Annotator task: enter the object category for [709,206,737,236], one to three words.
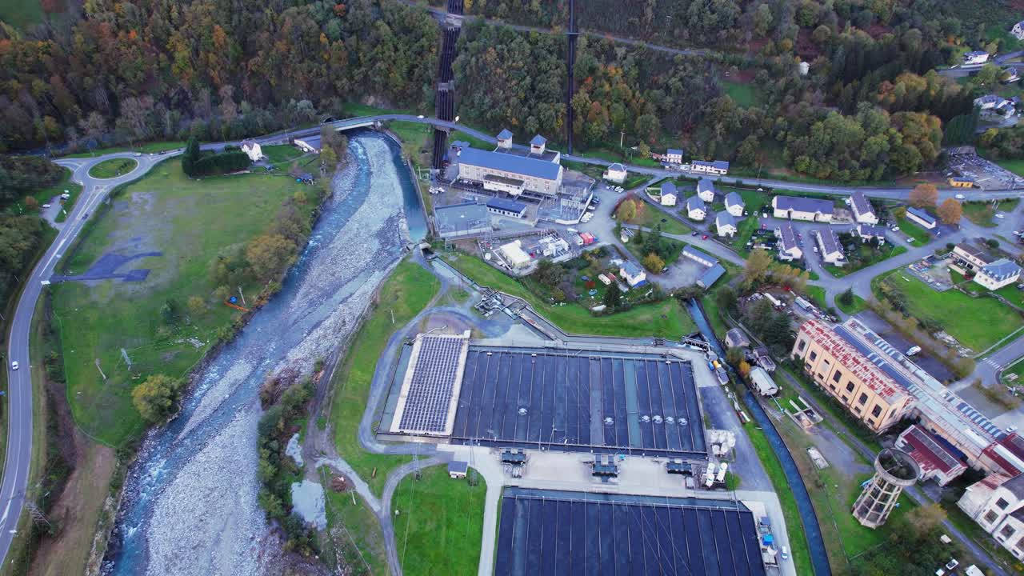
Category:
house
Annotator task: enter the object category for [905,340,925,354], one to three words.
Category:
vehicle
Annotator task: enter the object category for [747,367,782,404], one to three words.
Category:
barn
